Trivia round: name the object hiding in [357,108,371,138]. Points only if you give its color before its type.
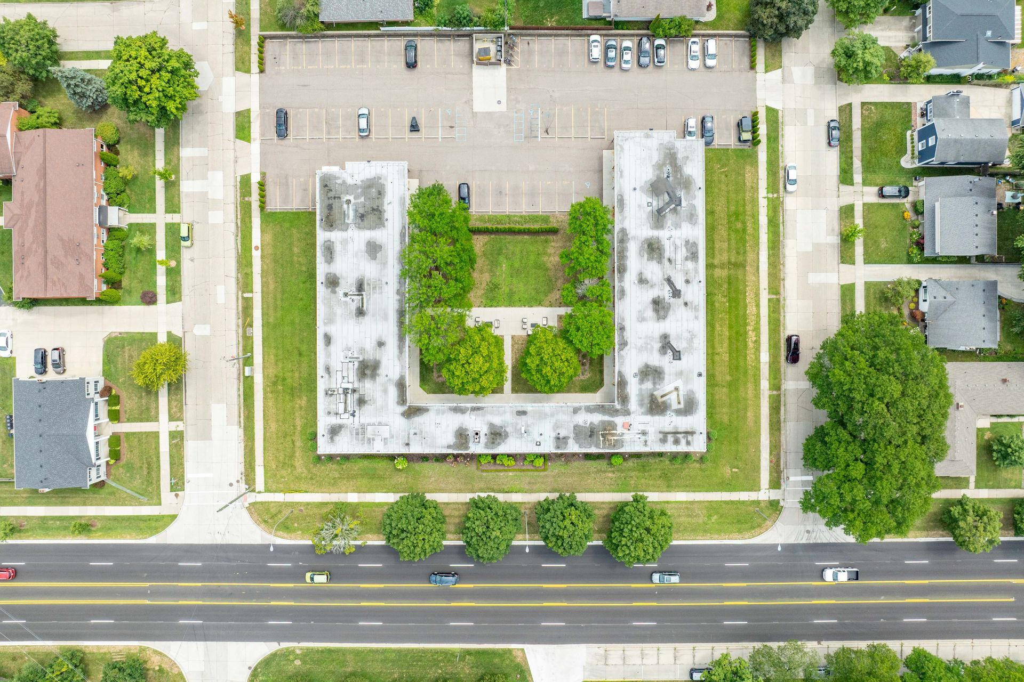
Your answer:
white car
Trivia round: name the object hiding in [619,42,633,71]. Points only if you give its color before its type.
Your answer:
white car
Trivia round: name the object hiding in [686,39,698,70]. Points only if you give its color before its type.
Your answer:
white vehicle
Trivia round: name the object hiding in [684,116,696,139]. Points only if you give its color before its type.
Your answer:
white vehicle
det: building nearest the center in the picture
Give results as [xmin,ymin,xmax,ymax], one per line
[317,127,706,454]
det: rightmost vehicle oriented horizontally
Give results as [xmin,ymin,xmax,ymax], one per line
[877,184,908,199]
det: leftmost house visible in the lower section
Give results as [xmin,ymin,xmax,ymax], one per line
[13,376,112,492]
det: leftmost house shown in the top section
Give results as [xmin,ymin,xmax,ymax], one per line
[0,102,137,300]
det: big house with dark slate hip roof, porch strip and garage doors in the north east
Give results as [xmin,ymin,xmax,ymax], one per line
[909,0,1017,75]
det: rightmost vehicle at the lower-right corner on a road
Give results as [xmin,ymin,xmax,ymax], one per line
[822,567,860,582]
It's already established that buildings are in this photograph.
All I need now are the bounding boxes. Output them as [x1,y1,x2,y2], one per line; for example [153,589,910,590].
[611,0,706,25]
[909,0,1017,75]
[917,279,998,350]
[930,362,1024,477]
[13,376,112,492]
[0,102,137,300]
[318,0,414,26]
[915,175,997,256]
[916,87,1008,165]
[317,127,706,454]
[1011,81,1024,127]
